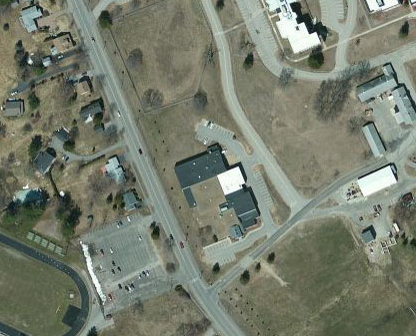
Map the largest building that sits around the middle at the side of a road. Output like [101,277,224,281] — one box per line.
[175,144,259,229]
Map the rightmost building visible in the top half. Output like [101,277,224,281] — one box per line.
[388,83,416,122]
